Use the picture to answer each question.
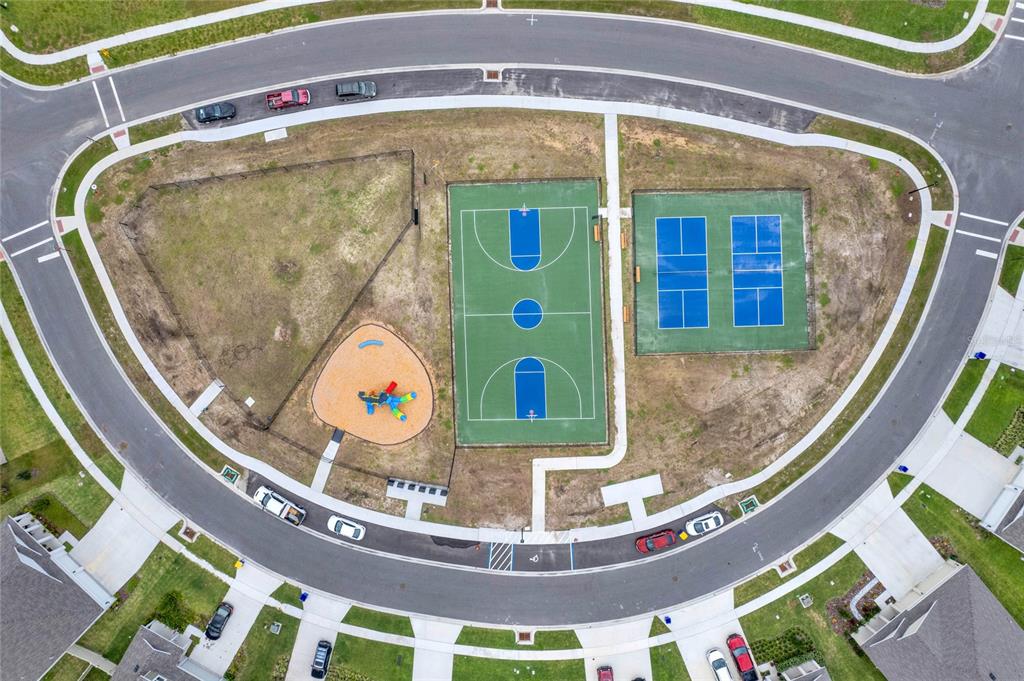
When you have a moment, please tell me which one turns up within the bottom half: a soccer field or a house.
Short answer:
house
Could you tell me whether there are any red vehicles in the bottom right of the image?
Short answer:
Yes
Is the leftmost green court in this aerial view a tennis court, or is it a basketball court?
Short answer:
basketball court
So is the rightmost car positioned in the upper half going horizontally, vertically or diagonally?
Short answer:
horizontally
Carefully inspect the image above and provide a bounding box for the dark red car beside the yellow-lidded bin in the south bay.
[635,528,677,553]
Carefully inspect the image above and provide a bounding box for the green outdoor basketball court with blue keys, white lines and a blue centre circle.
[447,178,609,447]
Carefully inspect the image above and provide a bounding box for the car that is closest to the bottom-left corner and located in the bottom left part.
[207,600,234,640]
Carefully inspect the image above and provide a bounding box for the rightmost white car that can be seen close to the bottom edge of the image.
[708,647,735,681]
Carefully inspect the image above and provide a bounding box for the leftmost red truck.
[264,87,312,111]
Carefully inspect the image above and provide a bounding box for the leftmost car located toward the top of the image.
[195,102,237,124]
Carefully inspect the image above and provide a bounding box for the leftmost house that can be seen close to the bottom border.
[0,510,115,681]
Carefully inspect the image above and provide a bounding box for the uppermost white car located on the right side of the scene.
[684,510,725,535]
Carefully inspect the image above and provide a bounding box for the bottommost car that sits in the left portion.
[310,638,334,679]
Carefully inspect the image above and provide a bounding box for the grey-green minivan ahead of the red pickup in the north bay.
[335,79,378,102]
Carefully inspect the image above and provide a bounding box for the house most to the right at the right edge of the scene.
[983,467,1024,557]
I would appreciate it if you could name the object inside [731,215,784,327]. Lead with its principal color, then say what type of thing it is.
blue sports court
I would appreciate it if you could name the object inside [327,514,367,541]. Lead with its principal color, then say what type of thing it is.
white car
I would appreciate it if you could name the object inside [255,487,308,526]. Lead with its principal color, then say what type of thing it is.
white truck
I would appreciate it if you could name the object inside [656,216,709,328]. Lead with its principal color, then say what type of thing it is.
blue sports court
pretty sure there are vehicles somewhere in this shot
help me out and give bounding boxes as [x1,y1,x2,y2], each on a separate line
[728,633,761,681]
[255,487,308,526]
[335,79,378,102]
[264,87,312,111]
[207,600,234,640]
[310,638,334,679]
[596,664,615,681]
[708,647,735,681]
[327,514,367,541]
[635,528,677,553]
[195,102,237,124]
[684,510,725,535]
